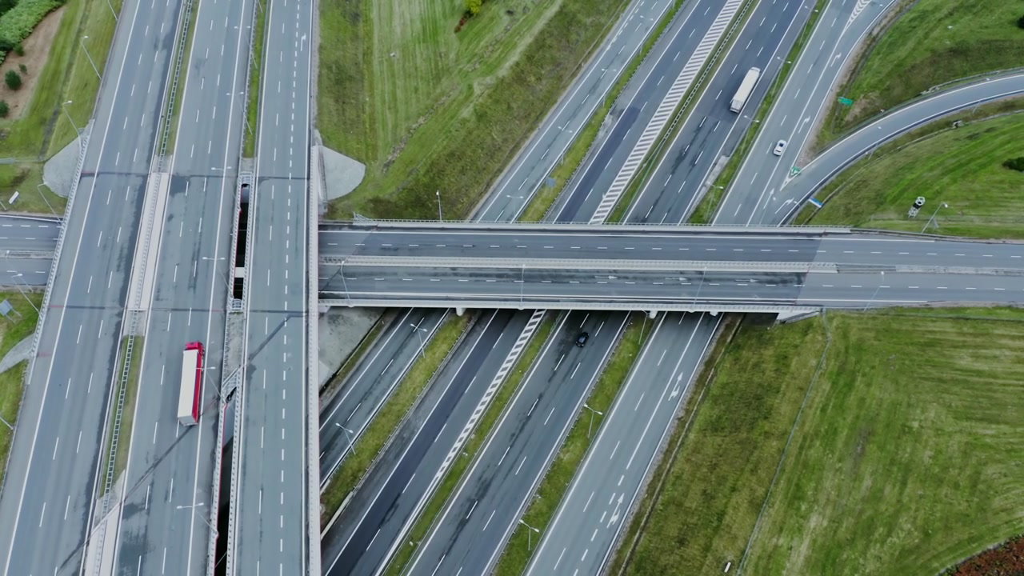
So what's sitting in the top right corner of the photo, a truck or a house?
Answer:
truck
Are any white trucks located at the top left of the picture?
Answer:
No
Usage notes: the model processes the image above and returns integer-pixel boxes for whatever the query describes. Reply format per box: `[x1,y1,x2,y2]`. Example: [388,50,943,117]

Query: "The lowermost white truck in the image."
[179,339,207,426]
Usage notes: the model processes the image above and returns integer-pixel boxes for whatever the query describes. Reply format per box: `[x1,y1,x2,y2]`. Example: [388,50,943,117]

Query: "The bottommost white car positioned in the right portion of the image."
[774,142,786,156]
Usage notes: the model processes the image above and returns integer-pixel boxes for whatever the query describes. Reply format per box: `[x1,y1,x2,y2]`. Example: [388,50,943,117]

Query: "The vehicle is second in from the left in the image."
[574,332,589,350]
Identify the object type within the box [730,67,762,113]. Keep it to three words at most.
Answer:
truck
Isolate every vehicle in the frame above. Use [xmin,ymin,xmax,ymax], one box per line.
[730,67,762,113]
[774,142,786,156]
[179,339,207,426]
[574,332,589,350]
